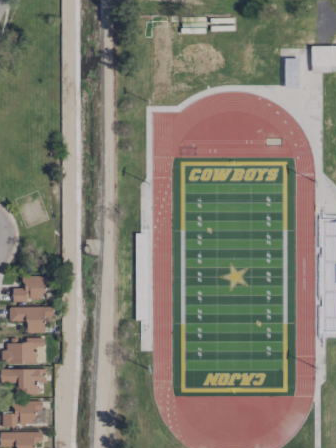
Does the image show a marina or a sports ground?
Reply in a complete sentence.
The picture captures a sports ground.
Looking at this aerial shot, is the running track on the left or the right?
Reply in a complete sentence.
The running track sits on the right side.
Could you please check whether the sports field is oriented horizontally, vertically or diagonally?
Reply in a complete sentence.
In this picture, the sports field is oriented vertically.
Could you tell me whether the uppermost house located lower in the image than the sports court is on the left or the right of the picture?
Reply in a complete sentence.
You can find the uppermost house located lower in the image than the sports court on the left side of the picture.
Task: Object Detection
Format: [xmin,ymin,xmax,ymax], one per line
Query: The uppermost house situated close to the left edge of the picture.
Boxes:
[12,276,44,302]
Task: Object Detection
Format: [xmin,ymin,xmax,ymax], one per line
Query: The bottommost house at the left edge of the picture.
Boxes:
[0,432,42,448]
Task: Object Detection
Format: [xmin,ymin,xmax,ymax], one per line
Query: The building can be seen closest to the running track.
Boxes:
[285,57,300,88]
